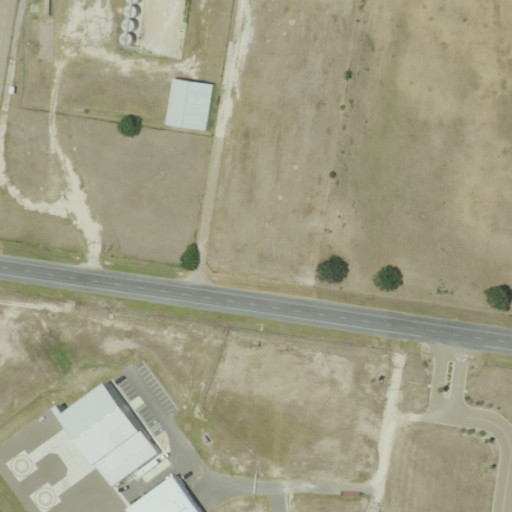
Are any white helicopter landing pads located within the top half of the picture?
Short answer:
No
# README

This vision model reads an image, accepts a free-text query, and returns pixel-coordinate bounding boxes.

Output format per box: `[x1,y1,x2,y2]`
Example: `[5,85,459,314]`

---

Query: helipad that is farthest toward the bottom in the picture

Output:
[30,482,62,512]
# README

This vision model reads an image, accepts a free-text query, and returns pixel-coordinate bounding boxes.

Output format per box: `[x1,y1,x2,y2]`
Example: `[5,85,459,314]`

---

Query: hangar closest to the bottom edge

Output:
[126,472,204,512]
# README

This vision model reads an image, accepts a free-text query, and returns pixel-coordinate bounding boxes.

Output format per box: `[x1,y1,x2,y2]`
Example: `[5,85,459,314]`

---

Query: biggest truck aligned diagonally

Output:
[135,453,170,476]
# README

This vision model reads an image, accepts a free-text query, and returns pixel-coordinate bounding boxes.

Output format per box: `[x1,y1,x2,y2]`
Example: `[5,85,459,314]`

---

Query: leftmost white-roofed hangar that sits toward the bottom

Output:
[52,382,160,486]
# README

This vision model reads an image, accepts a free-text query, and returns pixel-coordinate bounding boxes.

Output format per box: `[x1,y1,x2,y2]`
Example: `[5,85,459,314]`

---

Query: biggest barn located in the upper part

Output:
[166,78,214,130]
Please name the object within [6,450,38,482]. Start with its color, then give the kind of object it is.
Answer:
white helipad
